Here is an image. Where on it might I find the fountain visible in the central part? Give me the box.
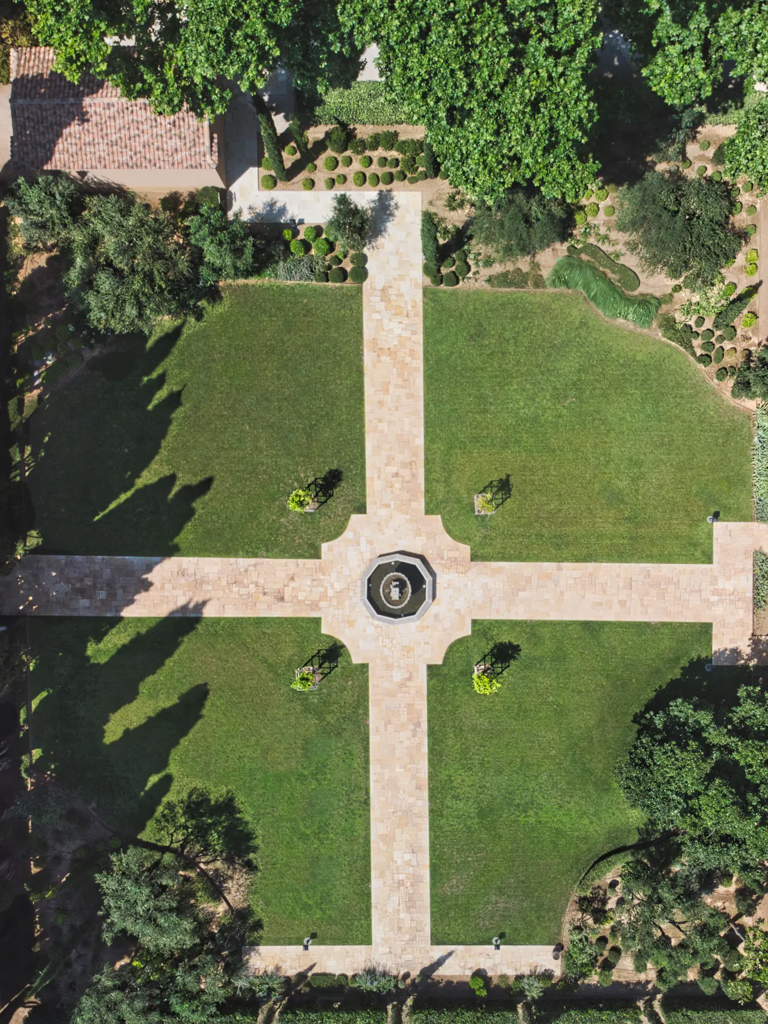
[363,554,430,625]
